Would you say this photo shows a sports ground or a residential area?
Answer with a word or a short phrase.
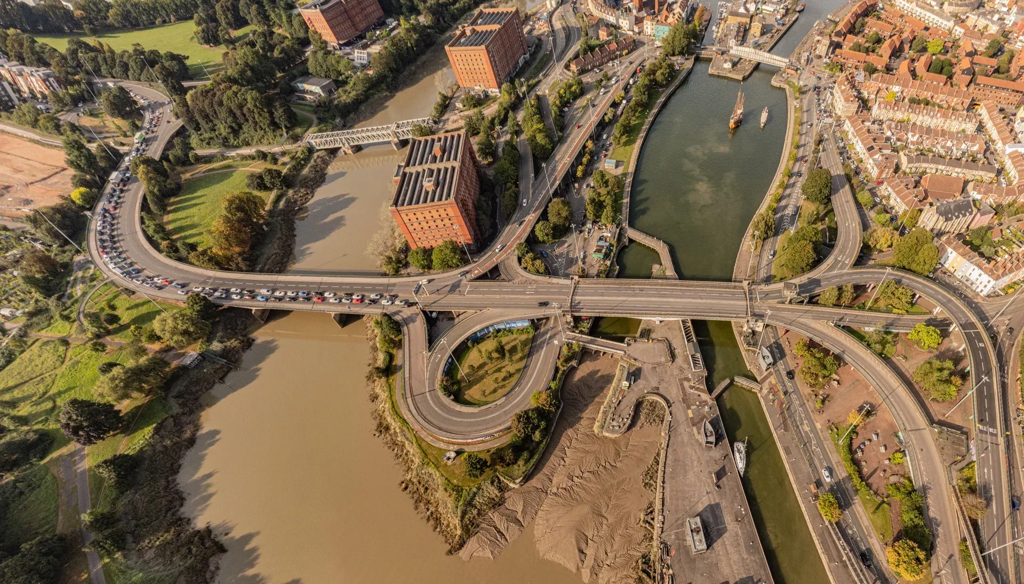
residential area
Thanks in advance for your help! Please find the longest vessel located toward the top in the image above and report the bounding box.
[727,81,747,130]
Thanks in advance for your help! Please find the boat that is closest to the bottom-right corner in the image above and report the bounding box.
[735,441,748,476]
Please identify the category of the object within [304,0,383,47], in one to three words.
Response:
building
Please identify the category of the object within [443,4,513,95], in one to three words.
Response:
building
